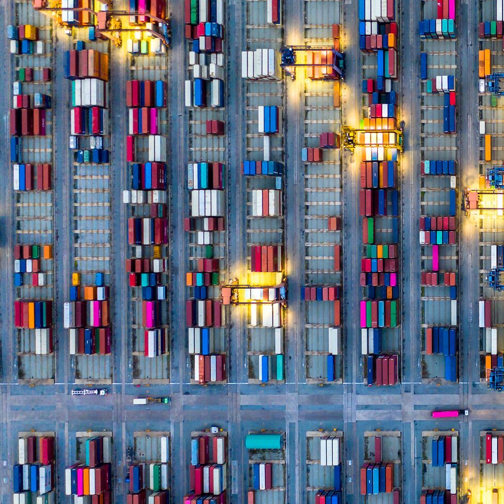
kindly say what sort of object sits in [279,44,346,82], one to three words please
crane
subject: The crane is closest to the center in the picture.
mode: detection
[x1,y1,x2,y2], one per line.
[223,277,291,309]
